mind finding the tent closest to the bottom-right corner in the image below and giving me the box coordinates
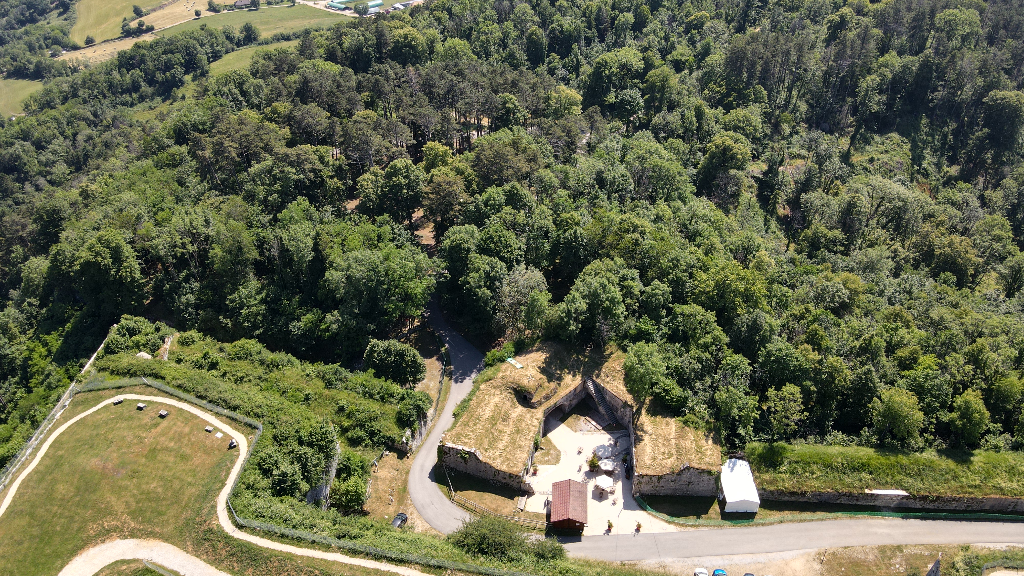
[720,461,760,512]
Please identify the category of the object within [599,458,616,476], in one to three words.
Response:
umbrella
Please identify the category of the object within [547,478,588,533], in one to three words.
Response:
shed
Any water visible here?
No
